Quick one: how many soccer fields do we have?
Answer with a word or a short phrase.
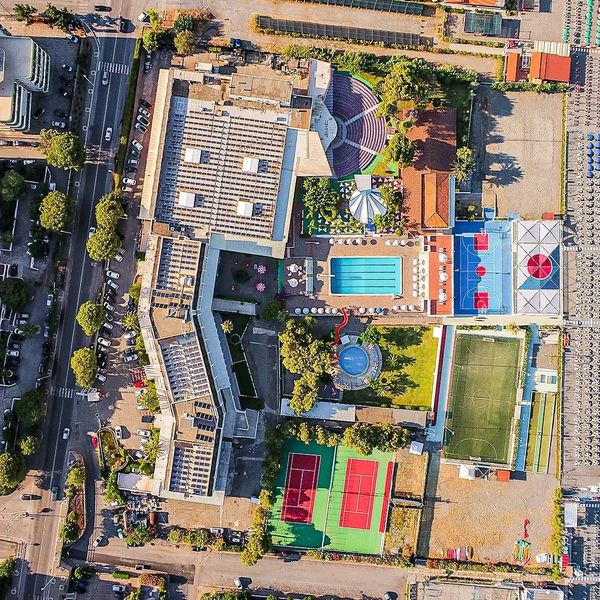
one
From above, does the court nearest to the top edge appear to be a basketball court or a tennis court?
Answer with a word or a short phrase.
basketball court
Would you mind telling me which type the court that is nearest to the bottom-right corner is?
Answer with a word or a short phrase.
tennis court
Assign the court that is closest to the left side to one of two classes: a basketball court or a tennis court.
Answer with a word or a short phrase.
tennis court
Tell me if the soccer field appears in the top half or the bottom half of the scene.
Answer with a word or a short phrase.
bottom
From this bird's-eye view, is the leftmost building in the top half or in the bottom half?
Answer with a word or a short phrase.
top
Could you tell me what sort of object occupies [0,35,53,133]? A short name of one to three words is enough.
building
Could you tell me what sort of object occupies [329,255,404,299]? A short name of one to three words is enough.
swimming pool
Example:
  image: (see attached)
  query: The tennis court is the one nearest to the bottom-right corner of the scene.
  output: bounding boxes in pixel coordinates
[324,446,398,557]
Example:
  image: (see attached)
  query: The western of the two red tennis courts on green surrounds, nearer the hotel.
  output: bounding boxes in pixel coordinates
[266,439,338,550]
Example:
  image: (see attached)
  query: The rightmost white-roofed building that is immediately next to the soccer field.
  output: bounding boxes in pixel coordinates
[533,369,558,392]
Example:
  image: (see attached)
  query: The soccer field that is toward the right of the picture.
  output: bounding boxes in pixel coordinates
[444,335,523,466]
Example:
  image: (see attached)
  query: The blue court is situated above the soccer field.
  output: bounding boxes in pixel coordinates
[454,221,513,315]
